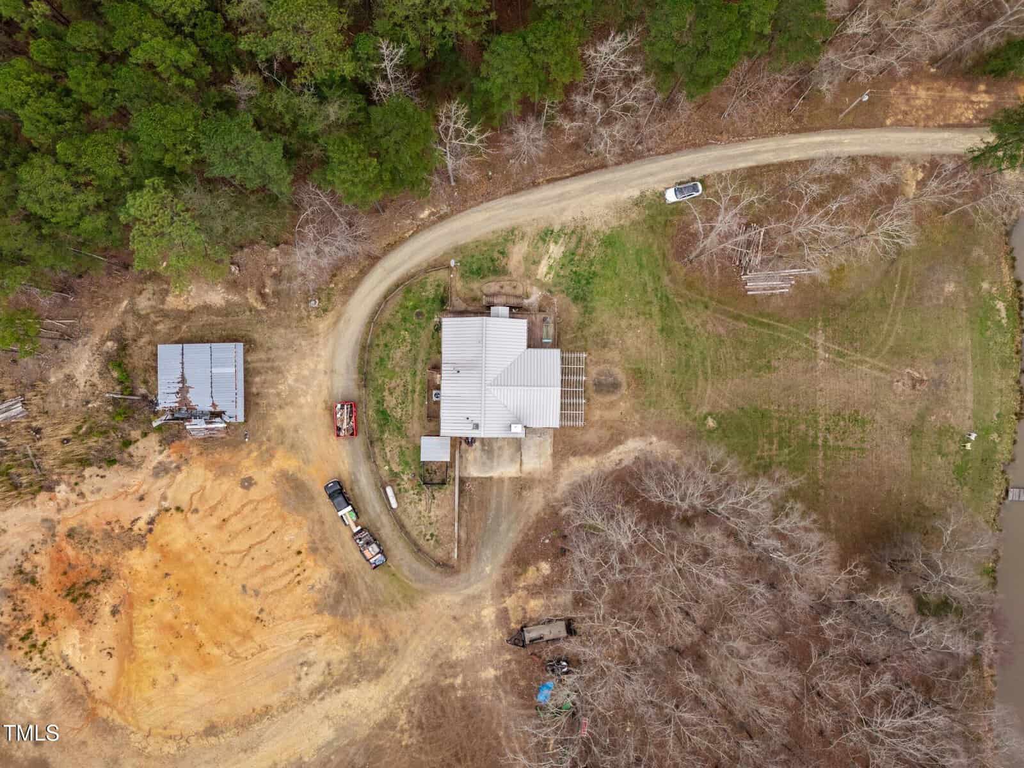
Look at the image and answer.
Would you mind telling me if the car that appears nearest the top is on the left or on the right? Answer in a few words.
right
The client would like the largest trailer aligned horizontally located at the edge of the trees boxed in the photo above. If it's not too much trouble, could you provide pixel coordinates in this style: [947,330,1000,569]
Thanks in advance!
[506,618,576,646]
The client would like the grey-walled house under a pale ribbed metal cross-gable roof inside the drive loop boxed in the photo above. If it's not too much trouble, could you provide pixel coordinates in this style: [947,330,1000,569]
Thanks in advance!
[441,306,562,439]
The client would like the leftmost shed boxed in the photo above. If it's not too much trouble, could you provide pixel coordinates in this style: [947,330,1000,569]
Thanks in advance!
[158,343,252,422]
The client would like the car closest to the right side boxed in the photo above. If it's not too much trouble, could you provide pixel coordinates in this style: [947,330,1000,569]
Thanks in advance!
[665,182,703,204]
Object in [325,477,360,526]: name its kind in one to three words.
truck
